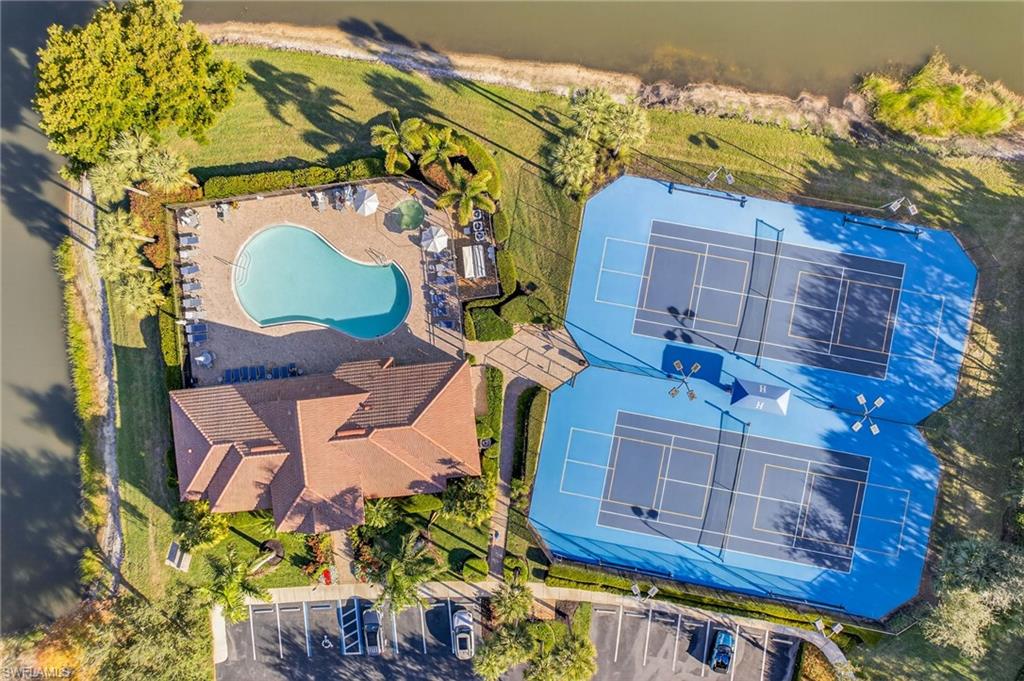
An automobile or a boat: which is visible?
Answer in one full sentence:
This aerial view contains an automobile.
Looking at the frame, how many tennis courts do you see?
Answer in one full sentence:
Altogether the scene contains 2 tennis courts.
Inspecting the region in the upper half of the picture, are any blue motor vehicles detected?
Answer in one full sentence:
No, in the upper half of the picture there is no blue motor vehicle.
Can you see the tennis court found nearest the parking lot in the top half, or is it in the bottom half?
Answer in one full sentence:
The bottom half of the photo is where the tennis court found nearest the parking lot is.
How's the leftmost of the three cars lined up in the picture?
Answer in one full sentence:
Seen from above, the leftmost of the three cars lies up and down.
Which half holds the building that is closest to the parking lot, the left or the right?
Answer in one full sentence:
You can find the building that is closest to the parking lot on the left side of the picture.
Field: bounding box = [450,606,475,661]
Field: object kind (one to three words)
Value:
car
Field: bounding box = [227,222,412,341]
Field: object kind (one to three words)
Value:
swimming pool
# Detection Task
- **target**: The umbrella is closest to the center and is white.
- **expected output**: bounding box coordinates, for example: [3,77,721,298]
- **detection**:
[421,225,447,251]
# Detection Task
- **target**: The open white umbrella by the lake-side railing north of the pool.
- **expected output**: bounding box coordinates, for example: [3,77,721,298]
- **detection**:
[353,187,381,215]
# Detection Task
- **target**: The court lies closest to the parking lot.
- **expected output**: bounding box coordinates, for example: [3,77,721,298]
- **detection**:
[528,365,940,619]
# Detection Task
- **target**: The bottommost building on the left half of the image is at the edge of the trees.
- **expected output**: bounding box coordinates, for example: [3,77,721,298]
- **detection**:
[168,359,481,538]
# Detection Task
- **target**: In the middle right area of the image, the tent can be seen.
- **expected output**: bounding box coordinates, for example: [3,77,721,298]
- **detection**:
[724,377,790,416]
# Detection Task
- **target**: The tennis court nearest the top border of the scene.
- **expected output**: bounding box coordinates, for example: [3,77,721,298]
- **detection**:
[565,176,977,424]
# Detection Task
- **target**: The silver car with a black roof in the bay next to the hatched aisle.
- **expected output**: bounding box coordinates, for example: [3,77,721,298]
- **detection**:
[358,606,383,657]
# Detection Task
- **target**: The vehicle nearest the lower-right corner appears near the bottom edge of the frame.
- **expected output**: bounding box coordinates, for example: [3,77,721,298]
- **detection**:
[709,623,737,674]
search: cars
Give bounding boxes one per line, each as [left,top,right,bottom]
[450,606,475,661]
[709,623,737,674]
[358,606,383,657]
